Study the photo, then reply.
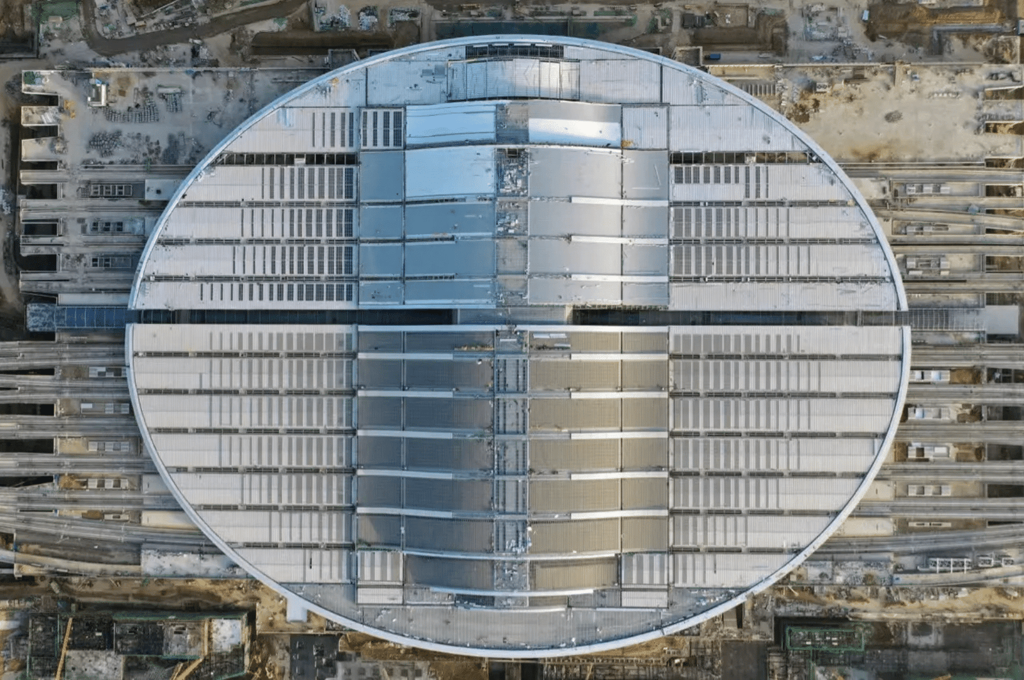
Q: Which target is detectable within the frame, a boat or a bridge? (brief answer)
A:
bridge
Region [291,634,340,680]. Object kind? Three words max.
building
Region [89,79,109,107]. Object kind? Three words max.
shed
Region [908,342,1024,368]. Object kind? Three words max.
bridge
